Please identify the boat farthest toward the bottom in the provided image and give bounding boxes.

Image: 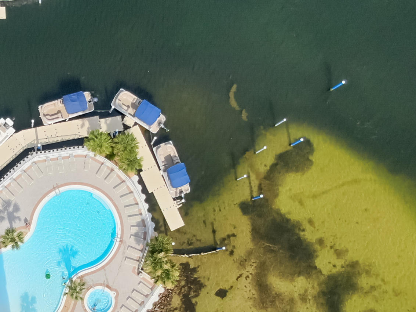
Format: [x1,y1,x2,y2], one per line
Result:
[154,142,189,207]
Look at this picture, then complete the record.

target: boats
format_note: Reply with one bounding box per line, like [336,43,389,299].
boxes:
[154,142,189,207]
[39,94,103,125]
[0,117,20,146]
[112,90,170,134]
